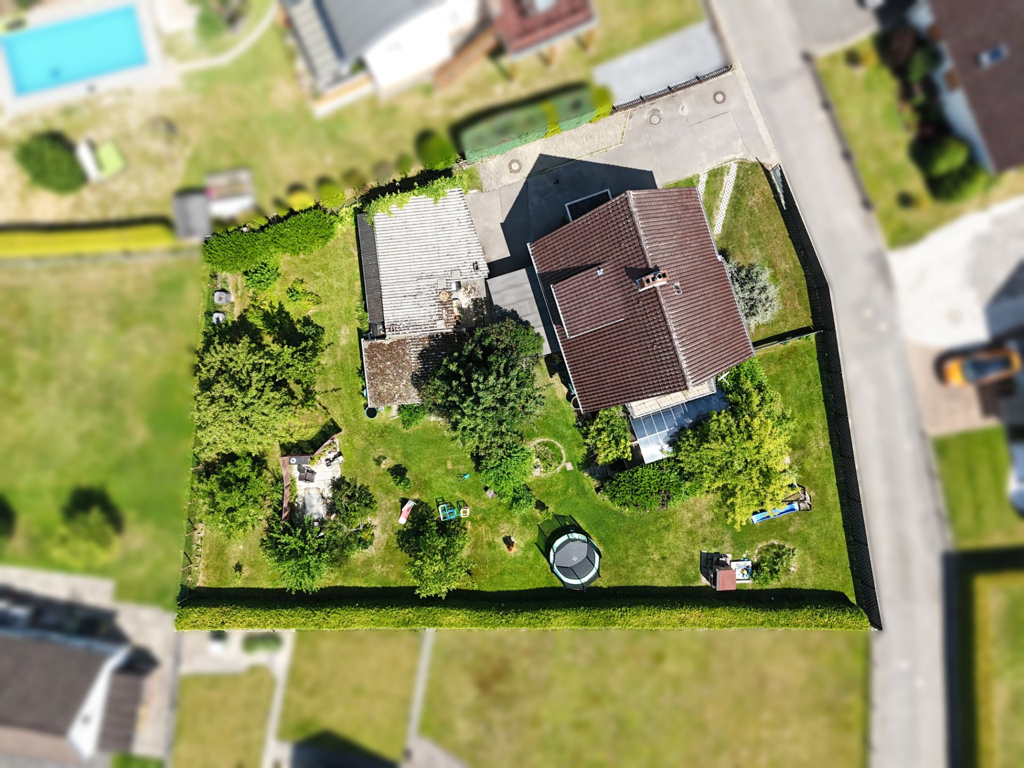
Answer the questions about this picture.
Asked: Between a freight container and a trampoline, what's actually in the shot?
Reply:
trampoline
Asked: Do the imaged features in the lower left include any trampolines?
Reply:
No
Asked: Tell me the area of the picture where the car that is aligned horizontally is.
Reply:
right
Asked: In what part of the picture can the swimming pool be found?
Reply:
top left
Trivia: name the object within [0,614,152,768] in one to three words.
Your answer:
house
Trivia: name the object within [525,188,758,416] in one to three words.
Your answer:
house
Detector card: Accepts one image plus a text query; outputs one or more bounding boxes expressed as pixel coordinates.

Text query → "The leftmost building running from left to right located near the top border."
[320,0,537,92]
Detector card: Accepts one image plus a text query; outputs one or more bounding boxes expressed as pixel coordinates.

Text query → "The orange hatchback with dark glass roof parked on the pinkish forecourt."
[940,346,1024,387]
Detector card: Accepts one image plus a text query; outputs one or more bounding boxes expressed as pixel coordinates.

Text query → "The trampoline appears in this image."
[549,523,604,593]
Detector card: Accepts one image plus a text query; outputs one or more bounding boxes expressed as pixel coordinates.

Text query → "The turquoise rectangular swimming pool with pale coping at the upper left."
[0,0,153,103]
